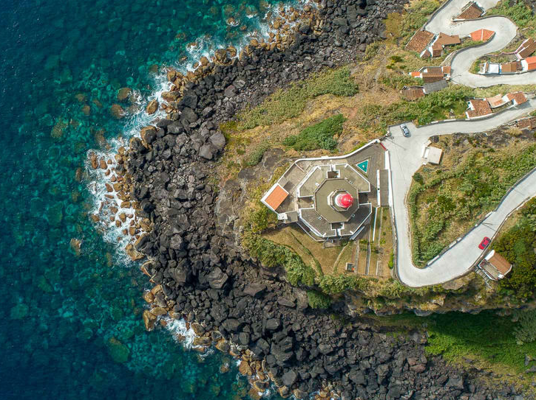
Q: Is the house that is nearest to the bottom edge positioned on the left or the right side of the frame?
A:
right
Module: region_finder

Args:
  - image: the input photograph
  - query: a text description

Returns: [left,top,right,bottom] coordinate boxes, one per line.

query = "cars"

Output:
[478,237,491,250]
[400,122,410,137]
